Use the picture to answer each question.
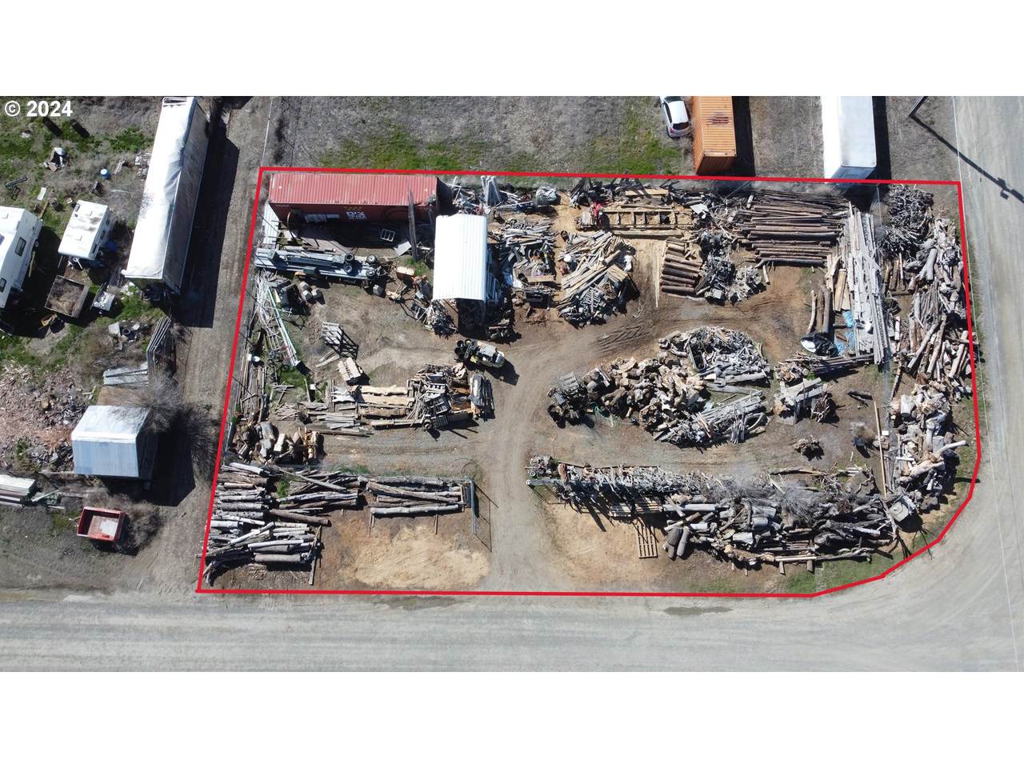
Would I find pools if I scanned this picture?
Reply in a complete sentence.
No, I find no pool anywhere in the image.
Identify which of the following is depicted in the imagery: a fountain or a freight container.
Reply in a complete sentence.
Visible in the photo is a freight container.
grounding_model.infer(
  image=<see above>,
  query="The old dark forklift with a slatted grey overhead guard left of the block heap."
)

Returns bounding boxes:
[554,371,591,412]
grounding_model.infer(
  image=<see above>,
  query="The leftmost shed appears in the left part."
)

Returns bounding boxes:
[68,402,166,482]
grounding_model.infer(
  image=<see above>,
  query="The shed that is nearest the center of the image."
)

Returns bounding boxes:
[433,214,489,313]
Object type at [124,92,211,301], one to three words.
trailer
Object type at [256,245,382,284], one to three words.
trailer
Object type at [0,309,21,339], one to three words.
car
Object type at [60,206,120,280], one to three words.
vehicle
